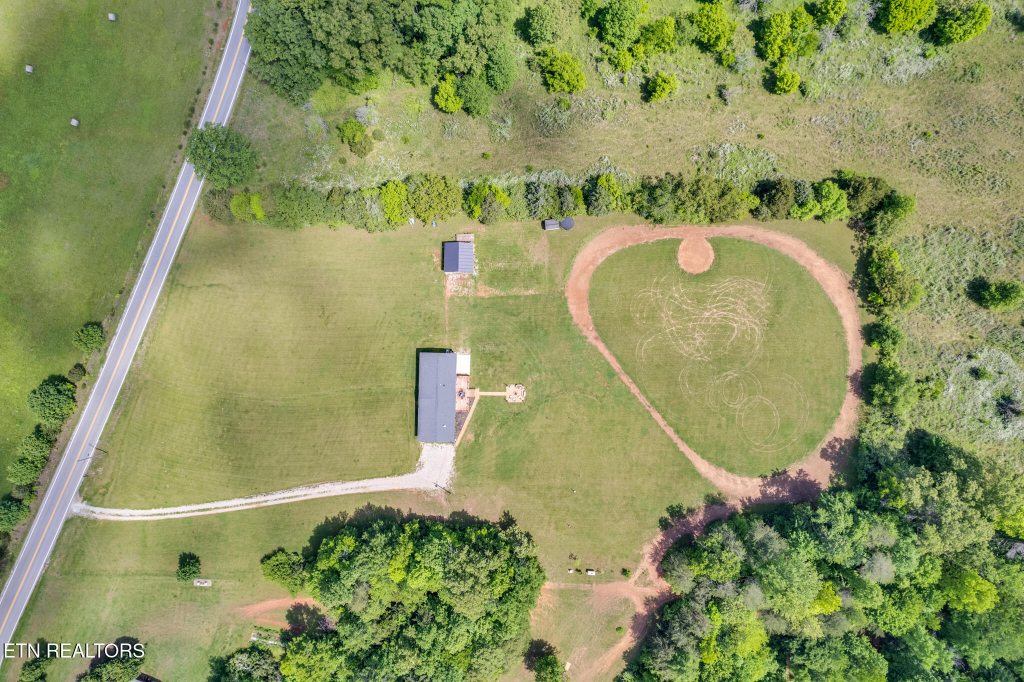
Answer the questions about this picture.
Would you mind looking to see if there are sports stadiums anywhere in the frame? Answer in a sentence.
No, the picture doesn't show any sports stadium.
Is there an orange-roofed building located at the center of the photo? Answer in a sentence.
No, at the center of the photo there is no orange-roofed building.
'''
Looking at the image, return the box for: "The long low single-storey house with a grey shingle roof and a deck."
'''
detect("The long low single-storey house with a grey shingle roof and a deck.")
[417,352,457,444]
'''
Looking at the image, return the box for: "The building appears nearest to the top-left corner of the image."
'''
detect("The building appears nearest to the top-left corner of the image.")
[444,242,474,273]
